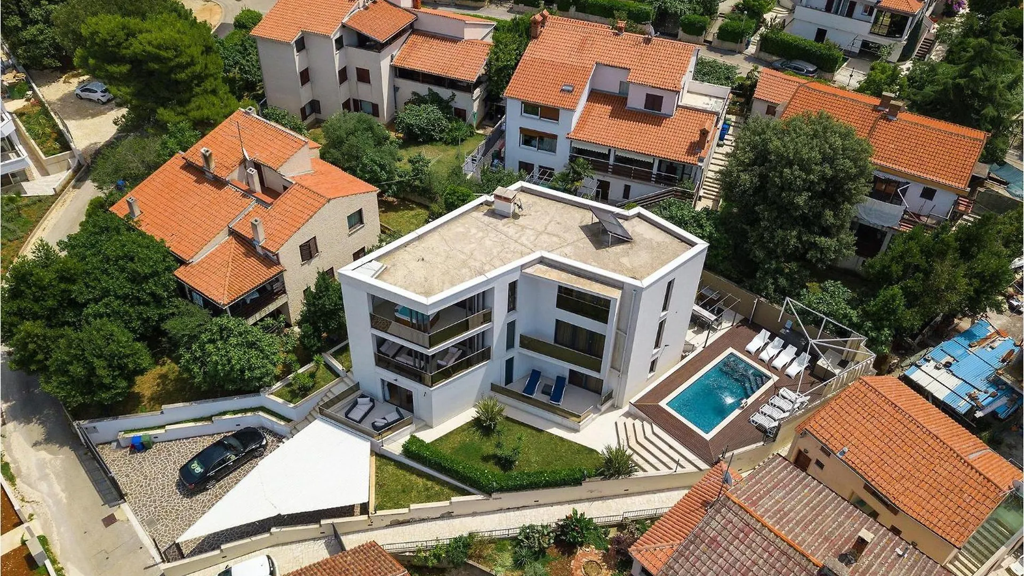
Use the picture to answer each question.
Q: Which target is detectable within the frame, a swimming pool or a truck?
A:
swimming pool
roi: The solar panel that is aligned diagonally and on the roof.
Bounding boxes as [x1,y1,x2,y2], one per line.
[593,207,633,246]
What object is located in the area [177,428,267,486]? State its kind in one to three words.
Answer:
car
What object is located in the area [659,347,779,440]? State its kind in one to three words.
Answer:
swimming pool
